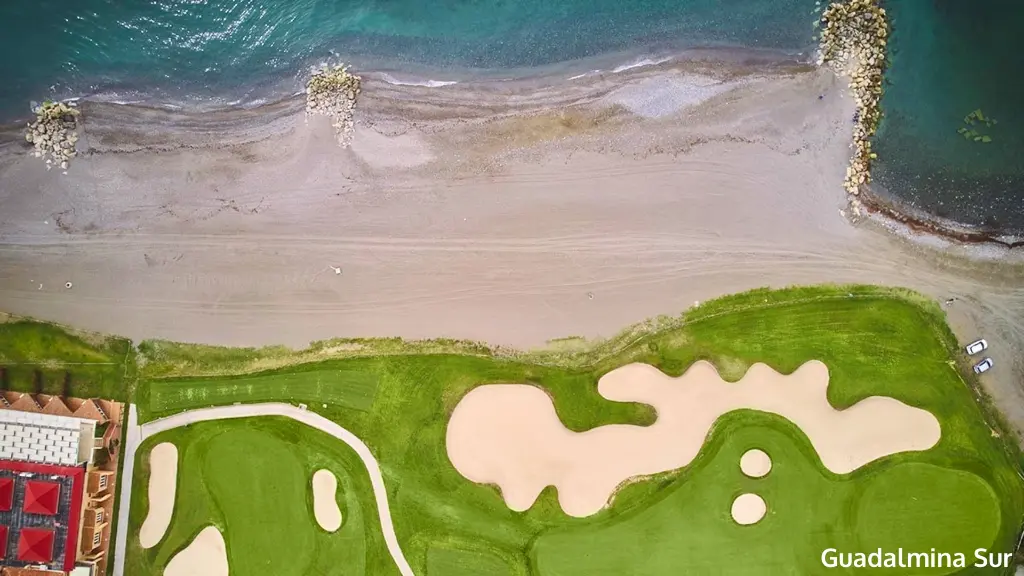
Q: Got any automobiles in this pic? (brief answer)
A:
Yes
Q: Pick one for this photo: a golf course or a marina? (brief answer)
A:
golf course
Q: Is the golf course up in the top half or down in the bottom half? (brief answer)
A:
bottom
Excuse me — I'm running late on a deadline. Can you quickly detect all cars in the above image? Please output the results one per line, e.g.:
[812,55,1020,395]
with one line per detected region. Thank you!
[964,339,988,356]
[972,358,994,375]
